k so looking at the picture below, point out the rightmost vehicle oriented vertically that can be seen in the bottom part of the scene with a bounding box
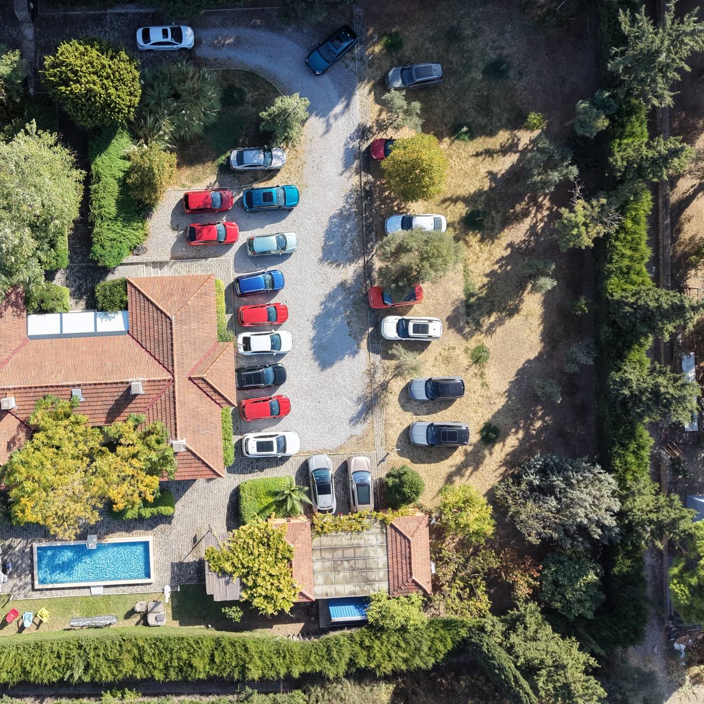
[346,453,374,511]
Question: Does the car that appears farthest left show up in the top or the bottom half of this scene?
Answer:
top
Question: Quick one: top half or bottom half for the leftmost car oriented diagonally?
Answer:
top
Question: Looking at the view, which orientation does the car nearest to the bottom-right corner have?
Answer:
from left to right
